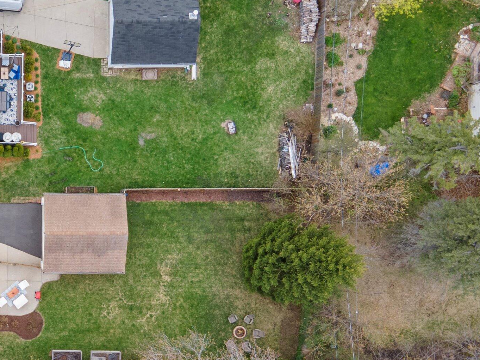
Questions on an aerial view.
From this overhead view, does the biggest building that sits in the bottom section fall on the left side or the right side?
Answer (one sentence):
The biggest building that sits in the bottom section sits on the left side.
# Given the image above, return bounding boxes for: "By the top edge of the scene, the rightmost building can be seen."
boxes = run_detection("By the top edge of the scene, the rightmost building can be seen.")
[106,0,200,89]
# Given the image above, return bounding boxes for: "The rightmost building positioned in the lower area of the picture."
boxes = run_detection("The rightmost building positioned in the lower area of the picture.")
[41,192,128,274]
